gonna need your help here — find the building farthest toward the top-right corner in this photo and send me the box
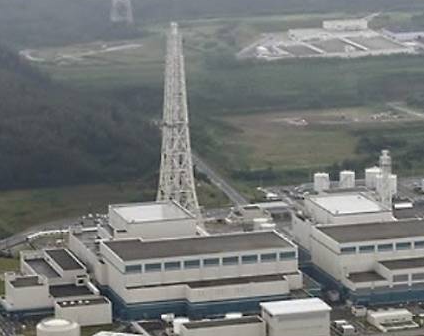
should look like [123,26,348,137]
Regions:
[376,25,424,39]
